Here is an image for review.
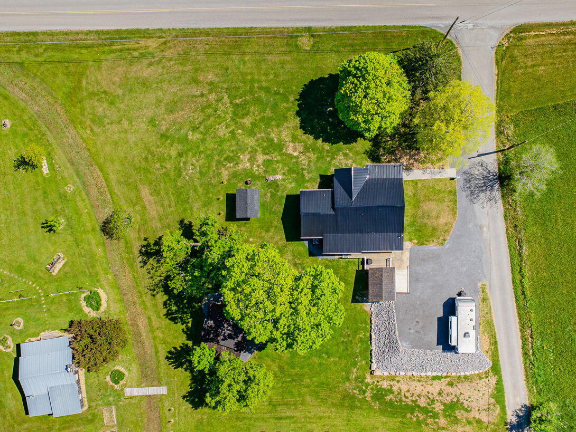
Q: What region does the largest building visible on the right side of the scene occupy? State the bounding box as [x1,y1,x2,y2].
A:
[300,163,406,255]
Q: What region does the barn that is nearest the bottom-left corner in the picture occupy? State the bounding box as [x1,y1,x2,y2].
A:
[19,336,85,417]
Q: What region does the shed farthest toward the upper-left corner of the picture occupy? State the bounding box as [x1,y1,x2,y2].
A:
[236,189,260,218]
